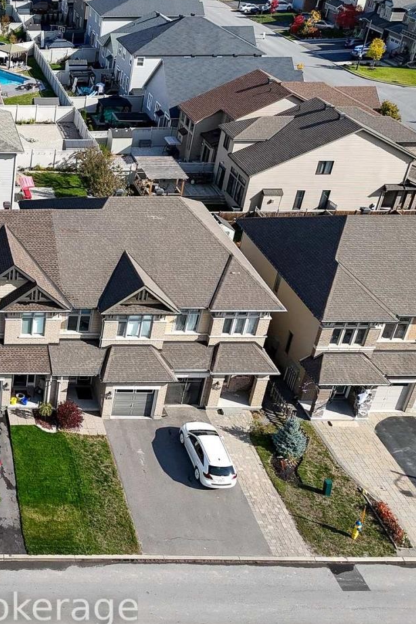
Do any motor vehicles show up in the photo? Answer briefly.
Yes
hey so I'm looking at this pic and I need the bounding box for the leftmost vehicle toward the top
[238,0,263,13]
